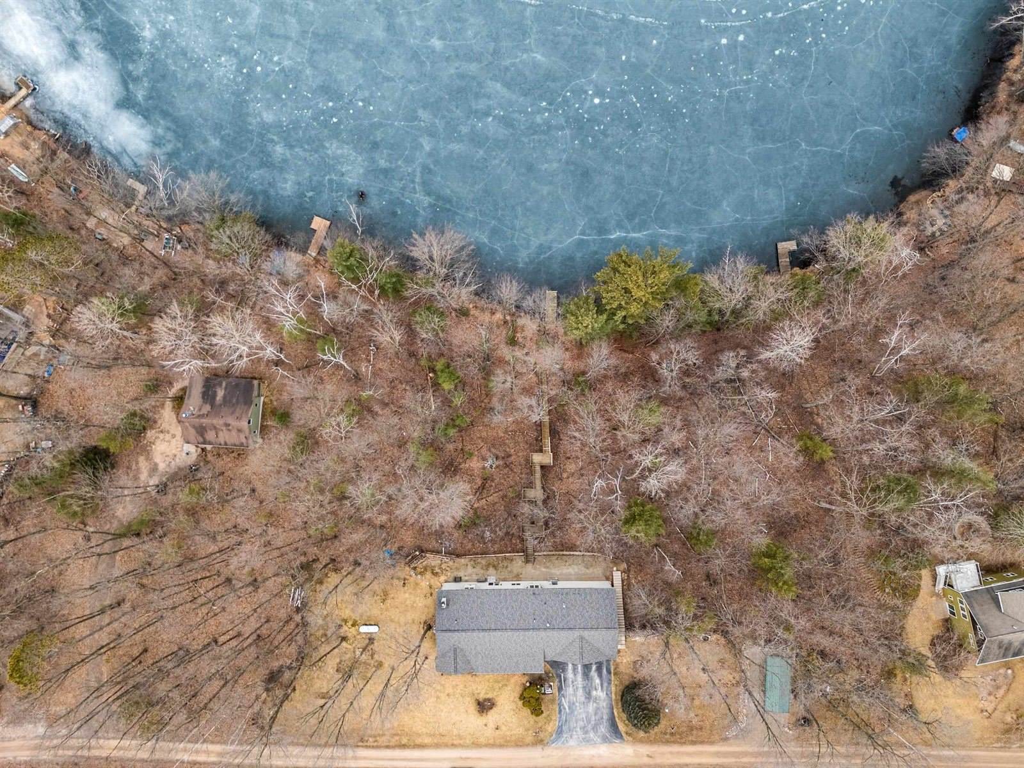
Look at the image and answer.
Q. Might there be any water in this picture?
Yes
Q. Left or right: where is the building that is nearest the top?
left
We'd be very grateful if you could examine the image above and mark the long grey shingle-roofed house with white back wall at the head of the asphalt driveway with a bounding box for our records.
[435,579,620,678]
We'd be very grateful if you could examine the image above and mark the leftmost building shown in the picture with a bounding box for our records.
[179,378,264,448]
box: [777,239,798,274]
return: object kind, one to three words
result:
pier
